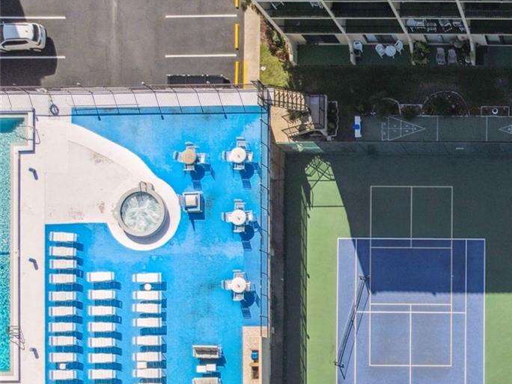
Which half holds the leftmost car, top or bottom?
top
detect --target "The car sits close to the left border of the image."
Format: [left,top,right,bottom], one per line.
[0,19,47,53]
